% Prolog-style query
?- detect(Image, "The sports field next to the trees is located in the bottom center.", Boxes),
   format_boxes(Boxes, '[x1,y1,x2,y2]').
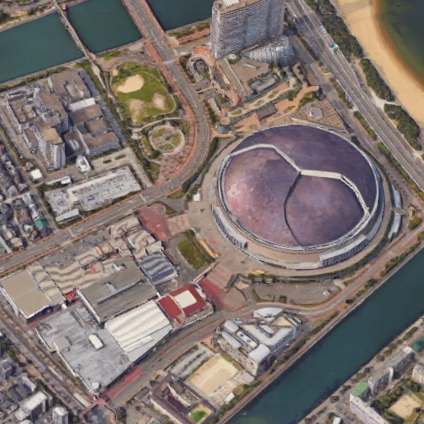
[190,358,238,393]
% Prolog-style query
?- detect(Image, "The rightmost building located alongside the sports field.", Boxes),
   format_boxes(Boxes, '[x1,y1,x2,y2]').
[214,308,297,375]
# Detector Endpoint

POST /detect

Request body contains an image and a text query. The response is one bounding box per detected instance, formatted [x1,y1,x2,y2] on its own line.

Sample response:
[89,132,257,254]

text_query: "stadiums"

[206,125,390,277]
